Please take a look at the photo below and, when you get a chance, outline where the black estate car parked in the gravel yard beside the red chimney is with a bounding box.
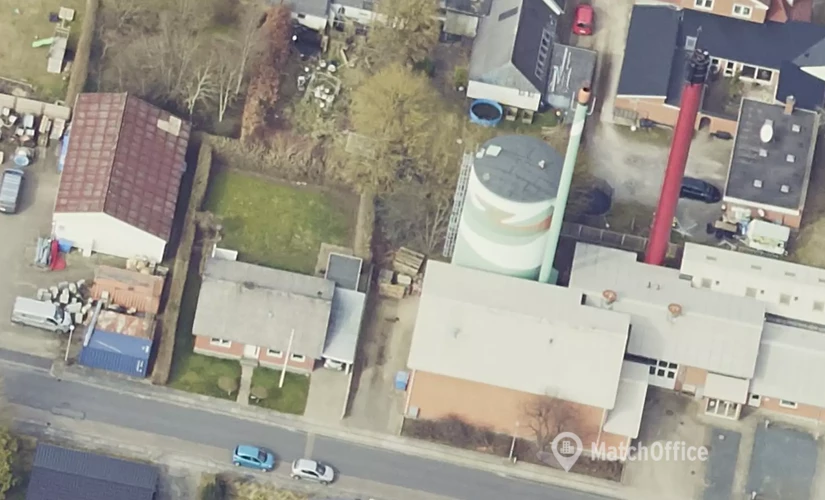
[678,177,723,206]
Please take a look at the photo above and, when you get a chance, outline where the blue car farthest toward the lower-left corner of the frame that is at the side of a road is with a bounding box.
[230,444,276,473]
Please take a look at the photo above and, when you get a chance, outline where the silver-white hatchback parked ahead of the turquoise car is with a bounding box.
[288,457,337,486]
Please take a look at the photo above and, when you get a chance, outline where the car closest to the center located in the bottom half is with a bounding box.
[322,357,342,370]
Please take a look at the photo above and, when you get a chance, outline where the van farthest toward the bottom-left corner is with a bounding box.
[10,295,73,336]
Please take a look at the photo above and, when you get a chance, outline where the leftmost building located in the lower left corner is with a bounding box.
[26,442,162,500]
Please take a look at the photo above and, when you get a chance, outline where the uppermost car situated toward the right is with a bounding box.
[572,6,594,39]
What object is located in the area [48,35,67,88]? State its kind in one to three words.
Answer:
shed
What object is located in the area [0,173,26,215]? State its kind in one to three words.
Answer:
vehicle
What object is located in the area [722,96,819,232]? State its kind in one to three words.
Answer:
house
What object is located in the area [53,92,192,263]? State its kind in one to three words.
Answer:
barn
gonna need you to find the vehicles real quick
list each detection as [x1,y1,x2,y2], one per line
[322,357,342,370]
[230,444,276,473]
[288,457,337,486]
[572,6,594,39]
[0,173,26,215]
[678,177,723,206]
[10,295,73,336]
